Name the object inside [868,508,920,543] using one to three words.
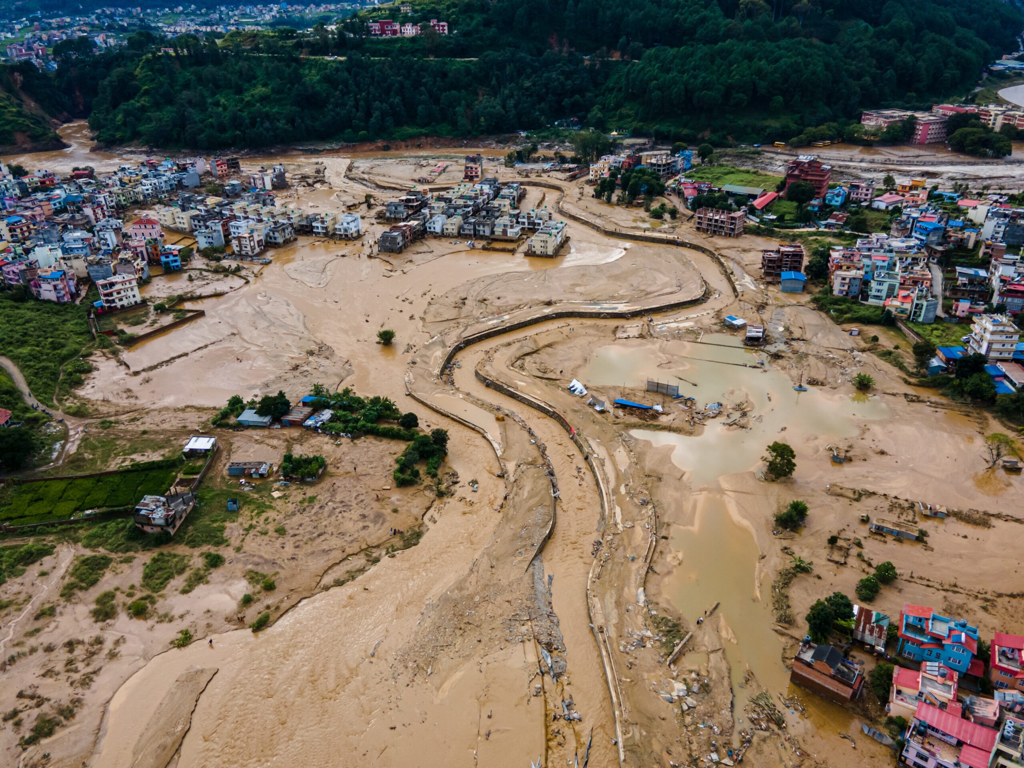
shed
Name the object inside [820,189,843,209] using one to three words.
house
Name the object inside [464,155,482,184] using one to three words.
house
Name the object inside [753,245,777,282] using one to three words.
building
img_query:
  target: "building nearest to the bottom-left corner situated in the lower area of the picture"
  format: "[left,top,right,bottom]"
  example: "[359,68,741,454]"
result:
[134,478,208,535]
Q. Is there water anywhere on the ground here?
Yes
